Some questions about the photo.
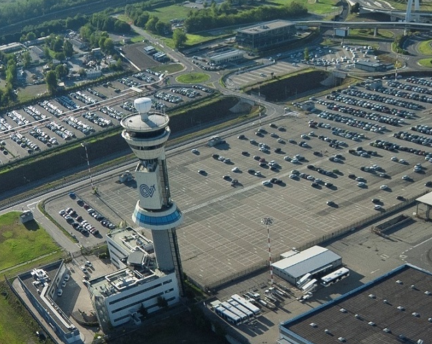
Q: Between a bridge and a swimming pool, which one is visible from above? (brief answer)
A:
bridge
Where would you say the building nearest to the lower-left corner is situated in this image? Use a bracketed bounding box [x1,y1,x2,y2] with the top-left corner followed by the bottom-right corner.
[18,260,82,344]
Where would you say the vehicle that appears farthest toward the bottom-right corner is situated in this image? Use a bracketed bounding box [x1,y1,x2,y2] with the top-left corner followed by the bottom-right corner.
[320,265,349,284]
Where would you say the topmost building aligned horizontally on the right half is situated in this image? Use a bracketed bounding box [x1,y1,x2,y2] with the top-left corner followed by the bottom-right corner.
[238,20,295,49]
